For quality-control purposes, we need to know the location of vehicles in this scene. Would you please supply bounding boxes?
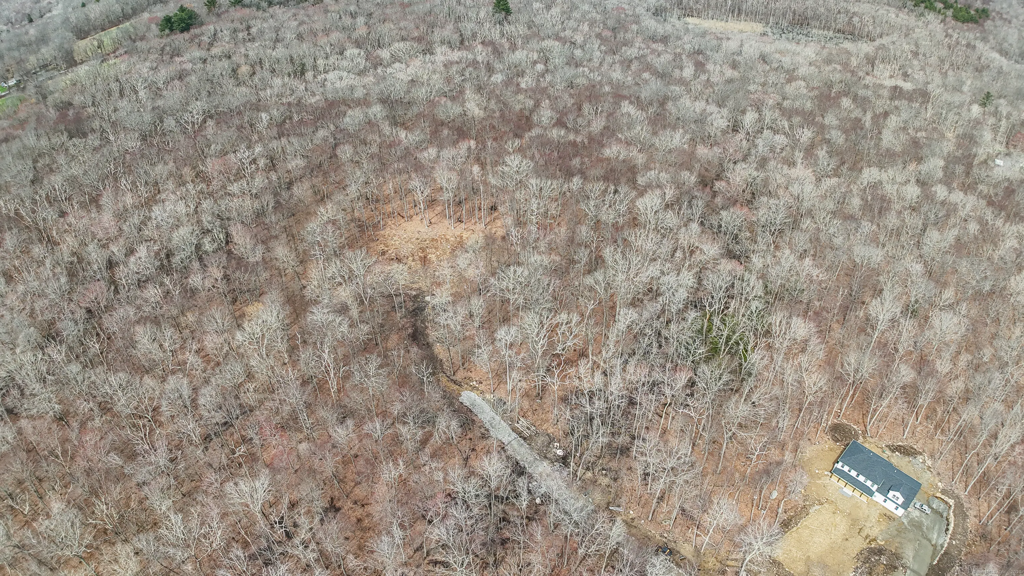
[656,545,675,560]
[914,501,933,515]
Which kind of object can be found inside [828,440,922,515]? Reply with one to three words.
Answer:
house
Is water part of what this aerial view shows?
No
